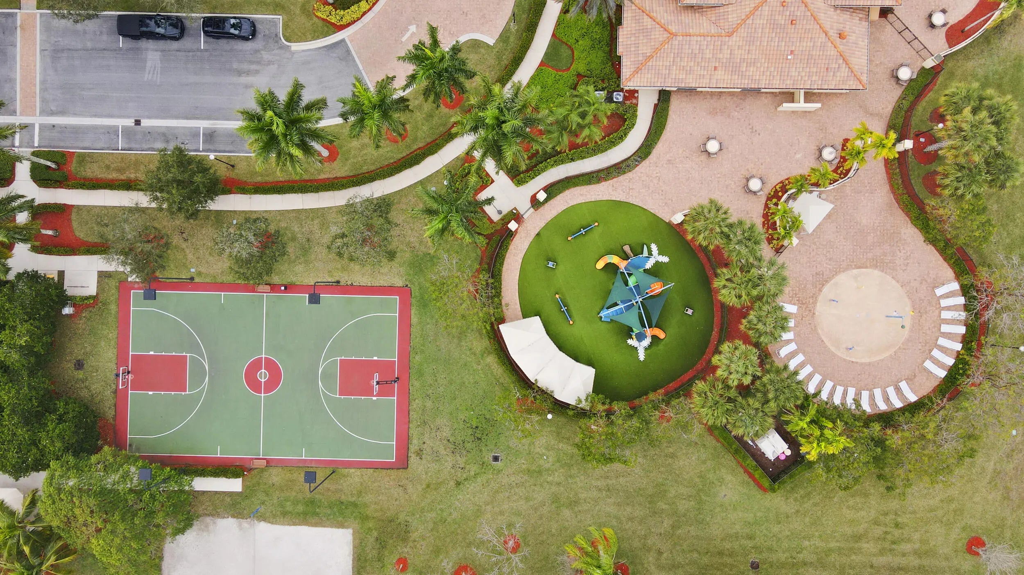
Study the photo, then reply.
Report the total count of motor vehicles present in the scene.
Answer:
2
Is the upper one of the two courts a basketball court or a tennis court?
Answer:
basketball court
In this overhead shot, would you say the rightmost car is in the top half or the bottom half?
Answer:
top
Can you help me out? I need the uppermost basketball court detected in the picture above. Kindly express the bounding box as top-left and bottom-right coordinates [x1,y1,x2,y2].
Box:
[115,281,411,469]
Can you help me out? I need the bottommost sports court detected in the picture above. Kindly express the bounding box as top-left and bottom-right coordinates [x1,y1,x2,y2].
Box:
[163,506,352,575]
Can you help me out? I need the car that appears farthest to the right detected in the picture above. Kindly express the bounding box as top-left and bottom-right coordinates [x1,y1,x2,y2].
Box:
[202,13,257,40]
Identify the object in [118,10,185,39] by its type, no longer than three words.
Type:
truck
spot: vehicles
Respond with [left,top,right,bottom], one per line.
[118,10,185,39]
[202,13,257,40]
